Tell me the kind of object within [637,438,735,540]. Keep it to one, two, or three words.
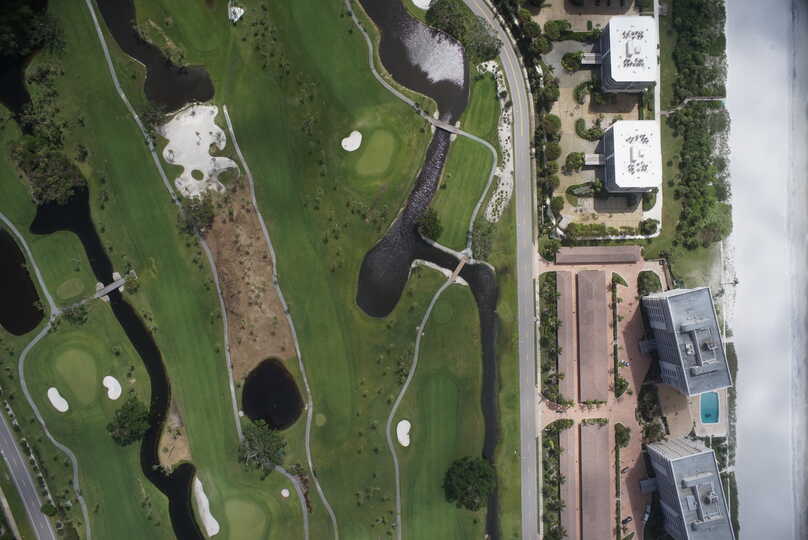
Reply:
building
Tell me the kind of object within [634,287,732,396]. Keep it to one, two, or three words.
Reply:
building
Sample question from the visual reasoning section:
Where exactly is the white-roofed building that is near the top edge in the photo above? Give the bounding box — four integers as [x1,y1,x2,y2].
[600,16,657,91]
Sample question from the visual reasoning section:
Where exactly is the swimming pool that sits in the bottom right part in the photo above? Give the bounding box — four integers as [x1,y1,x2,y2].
[700,390,720,425]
